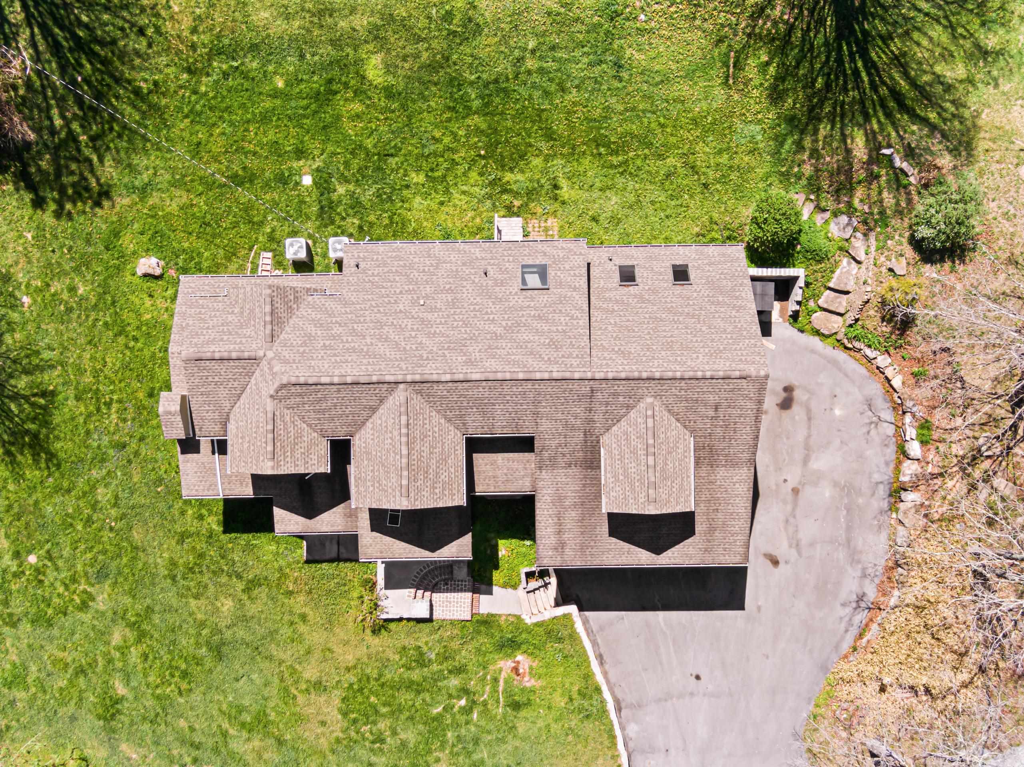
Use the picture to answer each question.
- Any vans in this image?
No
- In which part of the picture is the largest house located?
center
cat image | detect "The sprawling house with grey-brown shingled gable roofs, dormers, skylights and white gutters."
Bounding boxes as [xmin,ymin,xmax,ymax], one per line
[159,236,769,567]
